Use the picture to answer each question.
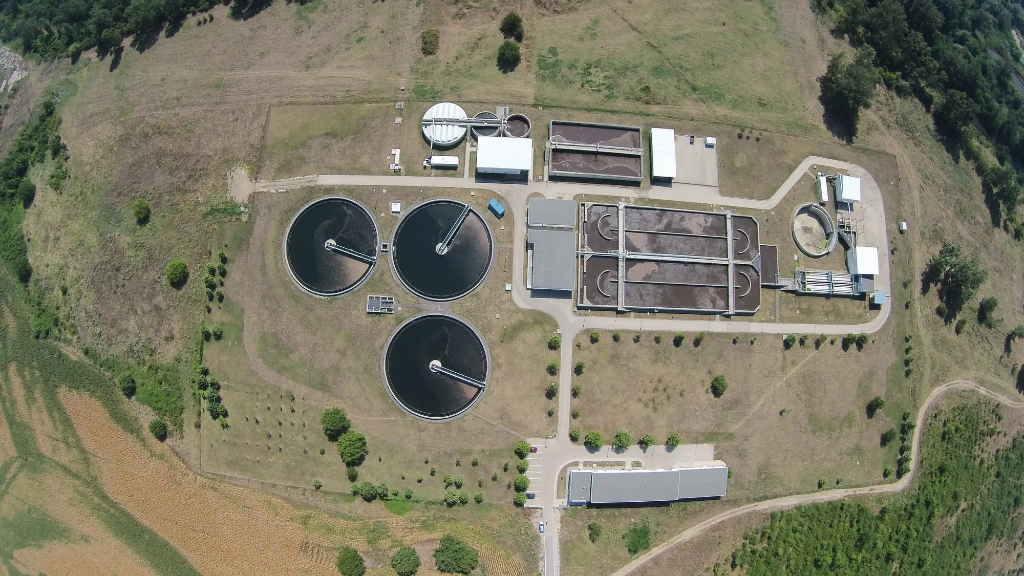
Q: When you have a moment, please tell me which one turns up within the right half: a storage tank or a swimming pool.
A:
storage tank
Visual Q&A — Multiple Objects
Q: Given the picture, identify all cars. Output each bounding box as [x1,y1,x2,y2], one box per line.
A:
[528,447,540,453]
[525,493,536,500]
[539,521,545,534]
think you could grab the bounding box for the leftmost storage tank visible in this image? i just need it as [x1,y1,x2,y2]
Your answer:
[284,194,382,299]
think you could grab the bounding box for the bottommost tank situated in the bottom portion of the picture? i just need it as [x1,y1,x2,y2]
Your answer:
[383,311,491,422]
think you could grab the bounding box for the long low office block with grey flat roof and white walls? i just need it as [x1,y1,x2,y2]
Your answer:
[568,464,727,507]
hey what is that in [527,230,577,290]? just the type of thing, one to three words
building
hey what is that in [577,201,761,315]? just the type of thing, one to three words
storage tank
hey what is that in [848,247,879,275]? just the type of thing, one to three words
house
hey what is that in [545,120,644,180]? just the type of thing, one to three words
storage tank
